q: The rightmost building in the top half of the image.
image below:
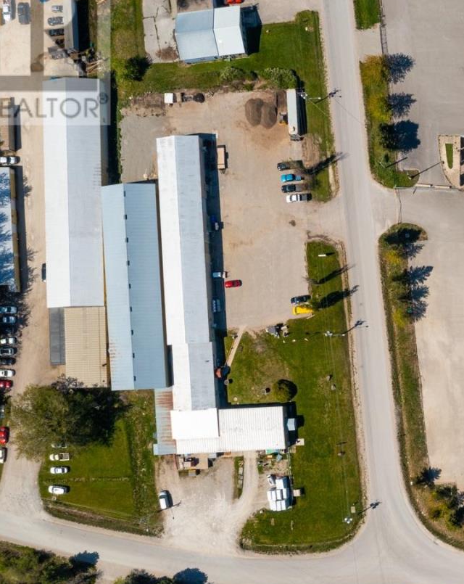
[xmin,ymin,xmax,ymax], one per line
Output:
[212,6,251,61]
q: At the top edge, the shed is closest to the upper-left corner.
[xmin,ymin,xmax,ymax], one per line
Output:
[62,0,81,54]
